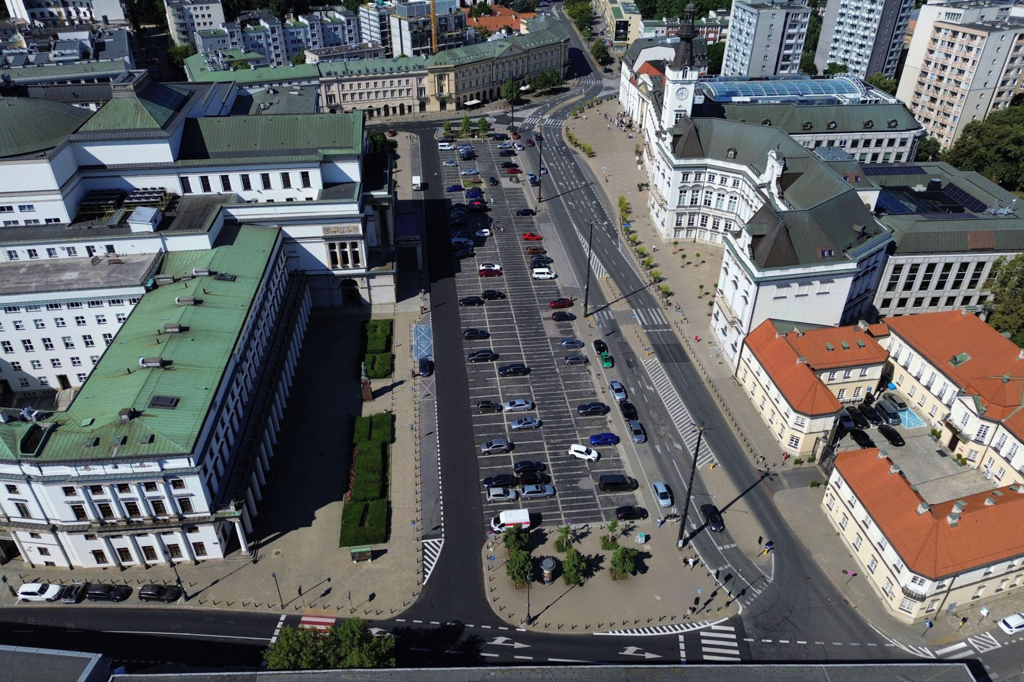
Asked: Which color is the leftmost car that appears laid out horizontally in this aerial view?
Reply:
white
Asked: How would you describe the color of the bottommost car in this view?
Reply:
white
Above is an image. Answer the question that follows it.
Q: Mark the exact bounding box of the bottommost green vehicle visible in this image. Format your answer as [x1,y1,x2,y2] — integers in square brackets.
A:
[601,350,614,365]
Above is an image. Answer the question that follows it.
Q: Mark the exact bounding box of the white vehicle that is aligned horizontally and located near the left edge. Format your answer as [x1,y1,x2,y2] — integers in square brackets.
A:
[13,581,60,604]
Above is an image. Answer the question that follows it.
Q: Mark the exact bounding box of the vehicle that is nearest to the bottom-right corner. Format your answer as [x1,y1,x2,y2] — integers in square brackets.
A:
[997,610,1024,636]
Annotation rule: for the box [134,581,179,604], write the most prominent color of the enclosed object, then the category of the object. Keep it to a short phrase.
black car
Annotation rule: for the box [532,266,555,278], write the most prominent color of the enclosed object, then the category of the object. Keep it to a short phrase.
white vehicle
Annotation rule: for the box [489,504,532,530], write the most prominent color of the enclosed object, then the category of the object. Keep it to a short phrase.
white vehicle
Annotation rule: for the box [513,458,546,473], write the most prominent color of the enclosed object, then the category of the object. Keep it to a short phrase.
black car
